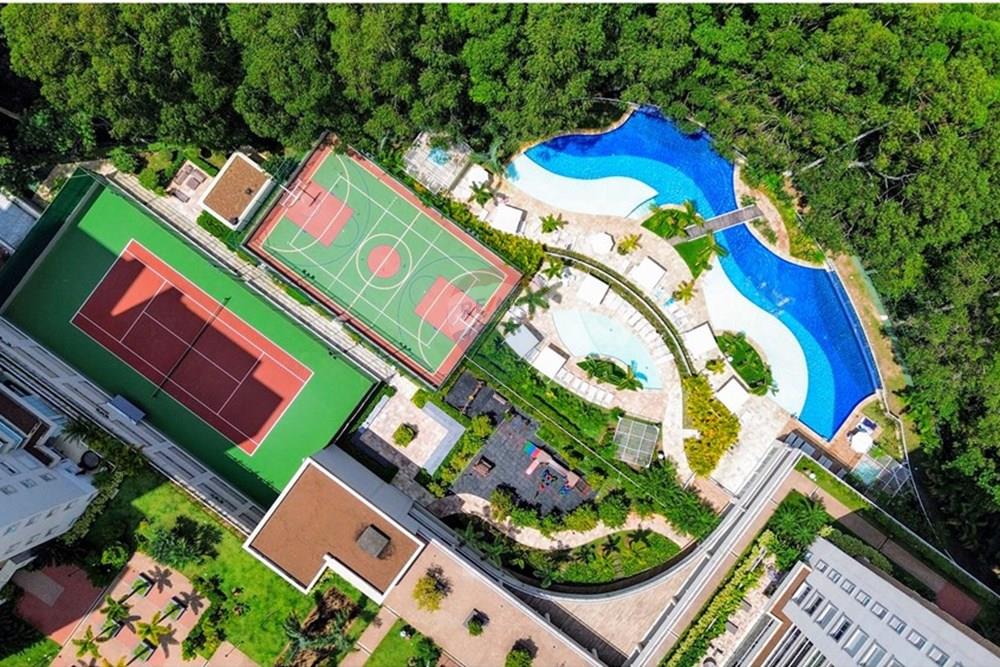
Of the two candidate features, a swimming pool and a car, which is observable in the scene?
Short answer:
swimming pool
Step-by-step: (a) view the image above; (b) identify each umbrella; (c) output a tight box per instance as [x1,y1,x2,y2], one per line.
[850,432,870,450]
[591,232,610,253]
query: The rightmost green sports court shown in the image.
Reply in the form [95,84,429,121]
[254,135,520,383]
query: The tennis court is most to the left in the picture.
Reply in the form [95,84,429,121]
[0,184,378,511]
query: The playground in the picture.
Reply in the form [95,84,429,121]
[446,370,598,516]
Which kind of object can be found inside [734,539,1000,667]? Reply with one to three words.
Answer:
building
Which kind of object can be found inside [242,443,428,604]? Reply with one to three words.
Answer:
building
